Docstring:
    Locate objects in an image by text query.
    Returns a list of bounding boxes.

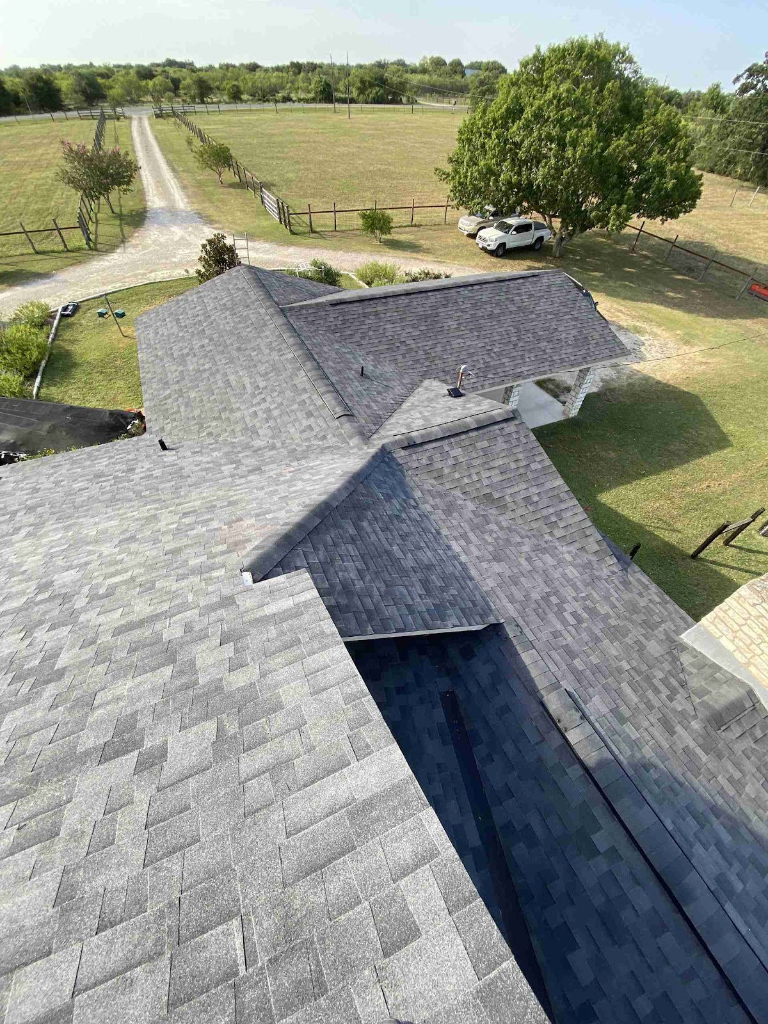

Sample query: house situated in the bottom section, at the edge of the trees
[0,263,768,1024]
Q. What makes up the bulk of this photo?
buildings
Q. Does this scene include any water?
No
